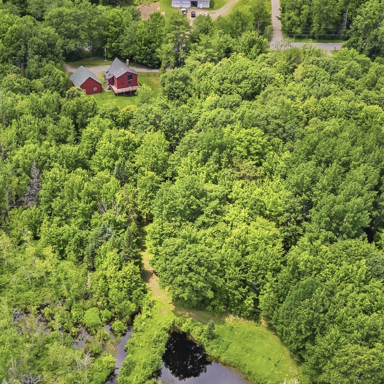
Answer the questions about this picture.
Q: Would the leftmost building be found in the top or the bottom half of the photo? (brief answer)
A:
top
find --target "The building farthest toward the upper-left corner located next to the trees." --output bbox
[71,66,102,94]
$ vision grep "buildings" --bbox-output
[102,55,142,96]
[171,0,211,7]
[71,66,102,94]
